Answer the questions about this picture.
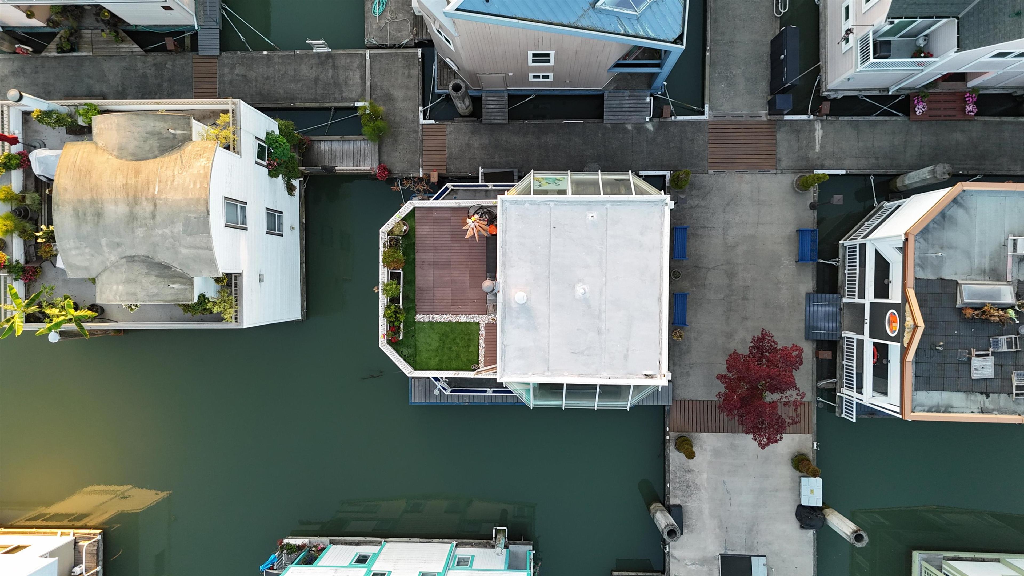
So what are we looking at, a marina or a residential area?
marina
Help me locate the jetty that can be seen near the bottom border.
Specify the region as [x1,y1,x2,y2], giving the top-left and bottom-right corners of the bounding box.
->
[663,431,818,576]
